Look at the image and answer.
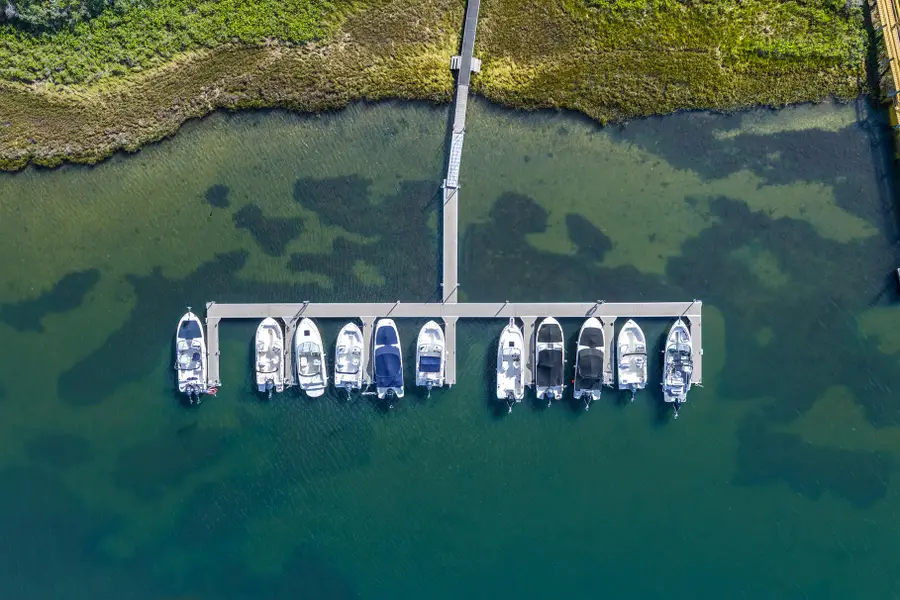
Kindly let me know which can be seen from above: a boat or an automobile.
boat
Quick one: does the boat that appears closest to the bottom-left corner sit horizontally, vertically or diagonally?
vertically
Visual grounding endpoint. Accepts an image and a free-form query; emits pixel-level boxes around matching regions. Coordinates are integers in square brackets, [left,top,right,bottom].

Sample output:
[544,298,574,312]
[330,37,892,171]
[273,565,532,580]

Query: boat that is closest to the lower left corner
[176,306,211,400]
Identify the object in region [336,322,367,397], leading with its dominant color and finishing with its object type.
white boat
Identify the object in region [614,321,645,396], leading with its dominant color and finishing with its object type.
white boat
